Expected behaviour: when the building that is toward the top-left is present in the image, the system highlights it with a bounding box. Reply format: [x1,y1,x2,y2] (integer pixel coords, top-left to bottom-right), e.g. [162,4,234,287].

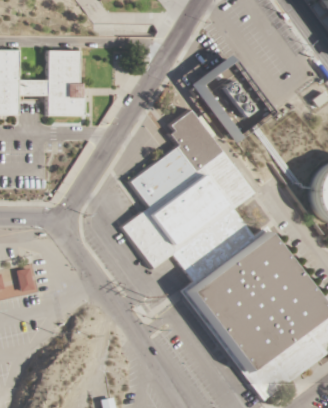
[0,50,86,116]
